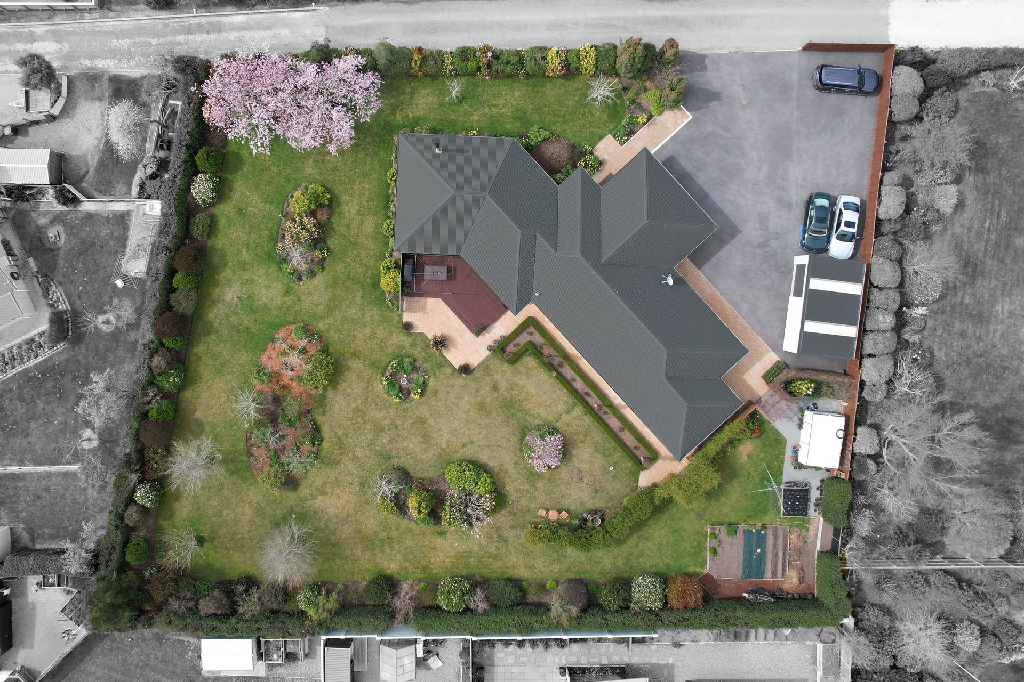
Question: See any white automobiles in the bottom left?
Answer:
No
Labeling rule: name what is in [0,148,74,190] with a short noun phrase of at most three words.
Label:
shed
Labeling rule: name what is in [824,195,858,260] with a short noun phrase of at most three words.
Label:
car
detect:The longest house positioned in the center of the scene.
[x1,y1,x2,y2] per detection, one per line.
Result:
[392,131,752,463]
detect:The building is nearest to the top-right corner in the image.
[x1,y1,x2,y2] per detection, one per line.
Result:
[785,256,868,359]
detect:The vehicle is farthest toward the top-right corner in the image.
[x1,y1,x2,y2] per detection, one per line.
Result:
[805,64,877,99]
